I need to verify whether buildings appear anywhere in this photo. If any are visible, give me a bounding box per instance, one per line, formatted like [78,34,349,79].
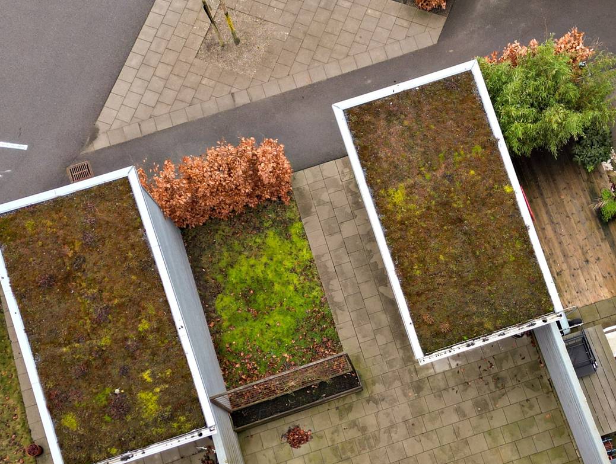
[0,165,229,464]
[335,63,563,370]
